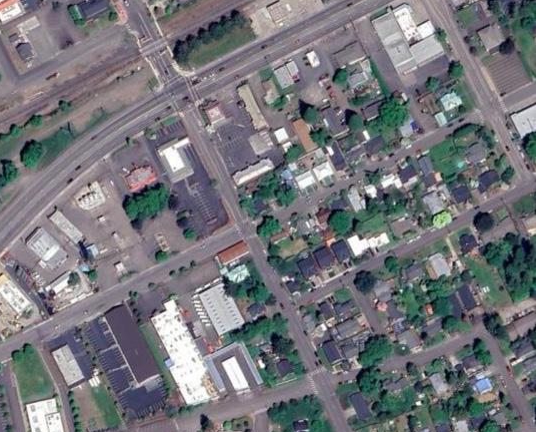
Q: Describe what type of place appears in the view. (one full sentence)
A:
What you see here is a residential area.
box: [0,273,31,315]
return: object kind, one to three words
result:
building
